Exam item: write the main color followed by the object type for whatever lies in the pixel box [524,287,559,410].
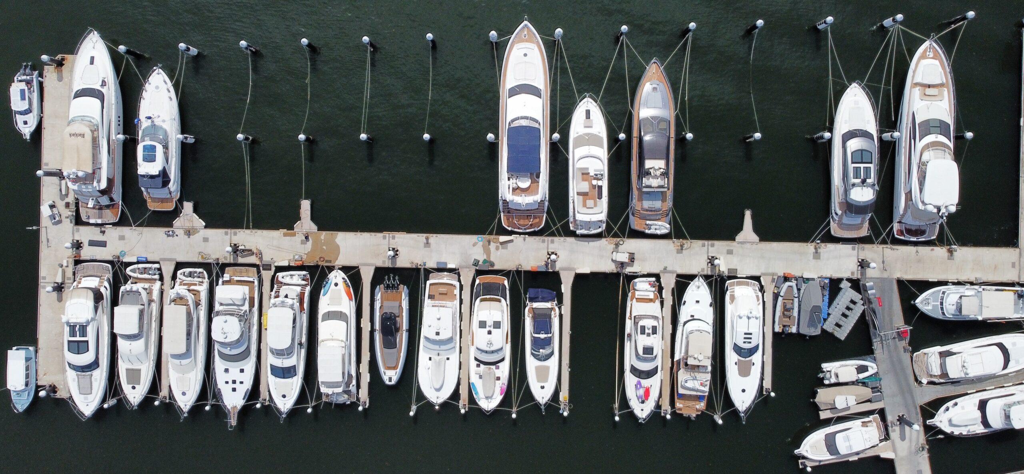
white boat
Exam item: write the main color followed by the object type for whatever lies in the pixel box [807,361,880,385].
white boat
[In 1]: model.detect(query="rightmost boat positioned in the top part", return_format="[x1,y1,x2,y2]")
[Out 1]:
[892,34,959,240]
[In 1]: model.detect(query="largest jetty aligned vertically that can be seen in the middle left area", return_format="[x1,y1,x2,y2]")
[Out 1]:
[37,54,78,398]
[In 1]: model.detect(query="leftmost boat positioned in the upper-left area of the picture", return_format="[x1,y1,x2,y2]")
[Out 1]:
[10,58,44,142]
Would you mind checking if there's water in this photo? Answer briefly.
Yes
